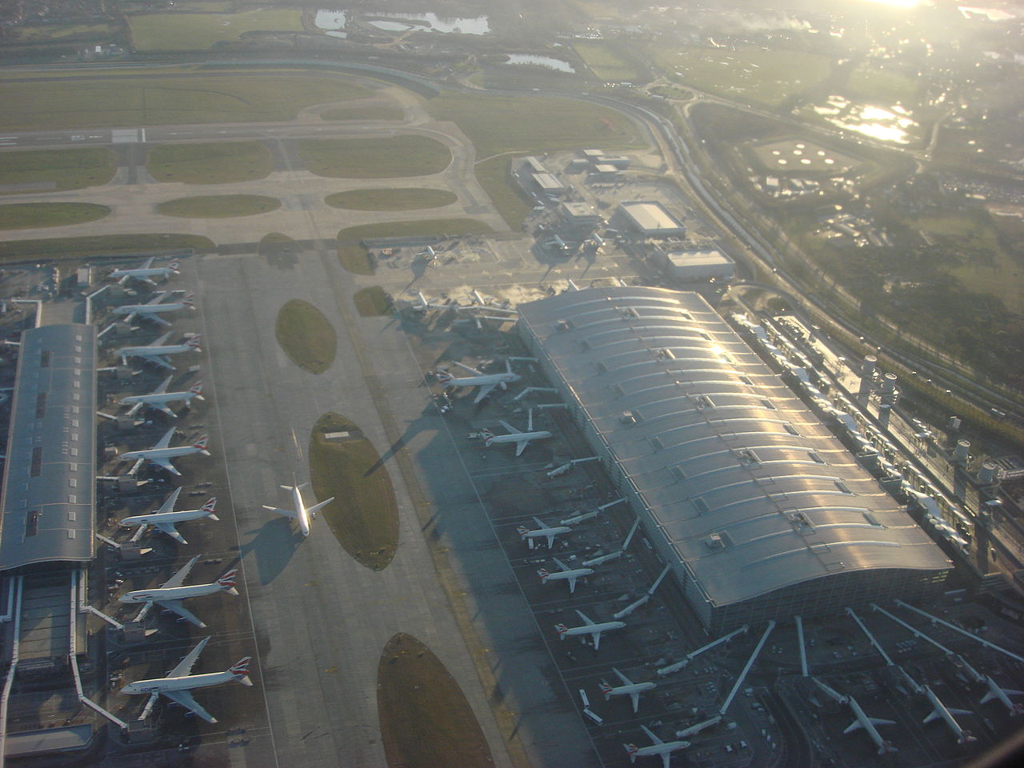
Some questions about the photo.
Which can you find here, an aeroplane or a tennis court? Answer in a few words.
aeroplane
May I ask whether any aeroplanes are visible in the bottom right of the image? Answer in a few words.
Yes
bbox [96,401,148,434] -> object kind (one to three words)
jet bridge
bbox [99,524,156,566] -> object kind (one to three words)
jet bridge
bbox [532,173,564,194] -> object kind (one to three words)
building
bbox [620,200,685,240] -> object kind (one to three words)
hangar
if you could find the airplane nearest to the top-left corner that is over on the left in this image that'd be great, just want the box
[111,260,173,283]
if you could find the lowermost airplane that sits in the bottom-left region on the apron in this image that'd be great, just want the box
[121,634,251,718]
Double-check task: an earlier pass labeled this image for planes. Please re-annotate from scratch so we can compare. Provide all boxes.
[262,477,331,537]
[121,634,251,718]
[118,426,211,474]
[984,679,1024,726]
[623,728,689,768]
[120,552,239,621]
[481,421,552,456]
[406,292,442,311]
[843,699,899,757]
[116,329,198,366]
[555,612,624,651]
[444,361,520,400]
[121,486,222,542]
[465,291,498,307]
[540,559,593,593]
[111,260,173,283]
[922,689,978,746]
[519,518,570,549]
[119,374,206,415]
[545,230,576,252]
[597,670,655,713]
[560,279,586,292]
[114,290,191,323]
